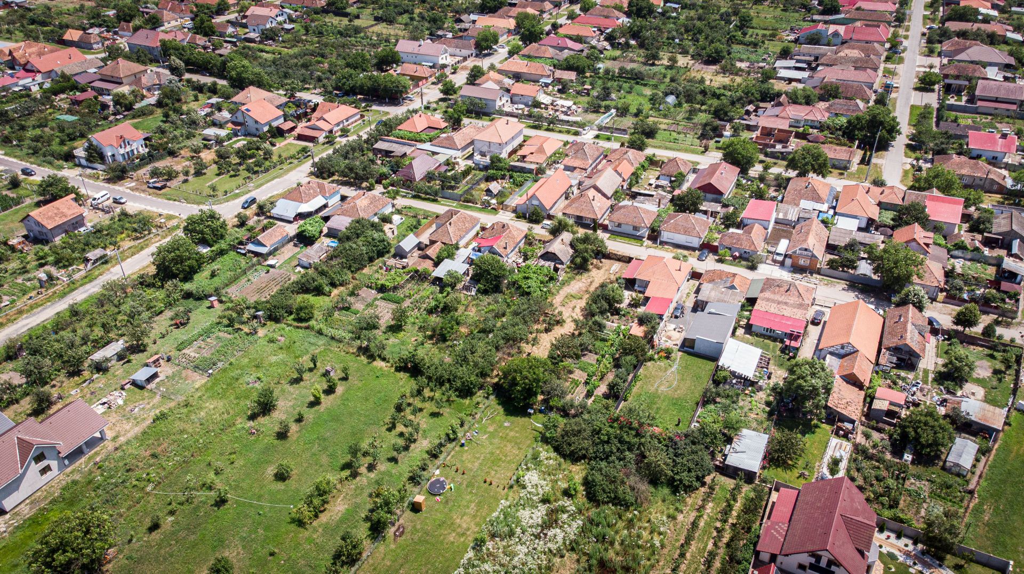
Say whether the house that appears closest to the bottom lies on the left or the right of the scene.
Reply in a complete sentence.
The house that appears closest to the bottom sits on the right side.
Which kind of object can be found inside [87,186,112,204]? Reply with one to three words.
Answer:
vehicle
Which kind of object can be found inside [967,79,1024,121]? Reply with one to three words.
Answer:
house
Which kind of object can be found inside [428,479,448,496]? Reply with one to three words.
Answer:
trampoline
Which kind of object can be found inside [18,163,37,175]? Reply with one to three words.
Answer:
vehicle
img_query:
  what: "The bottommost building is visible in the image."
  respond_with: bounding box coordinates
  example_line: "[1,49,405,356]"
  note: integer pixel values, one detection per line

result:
[752,482,879,574]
